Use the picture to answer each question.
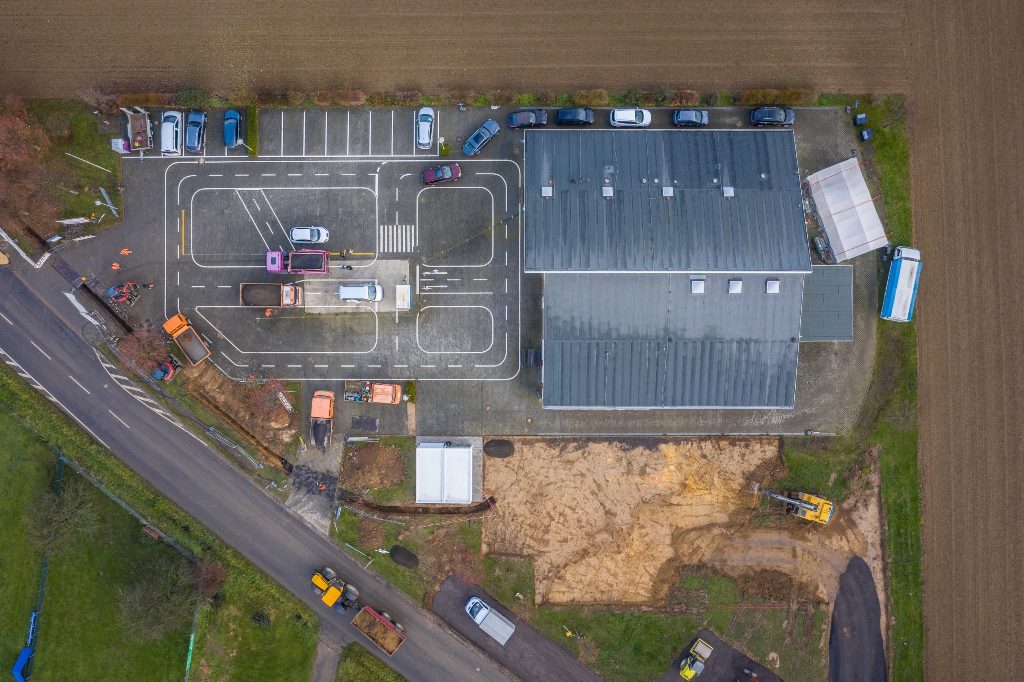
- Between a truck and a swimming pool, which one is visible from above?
truck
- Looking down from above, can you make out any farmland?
Yes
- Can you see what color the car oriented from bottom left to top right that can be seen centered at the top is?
blue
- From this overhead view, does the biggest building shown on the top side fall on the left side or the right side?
right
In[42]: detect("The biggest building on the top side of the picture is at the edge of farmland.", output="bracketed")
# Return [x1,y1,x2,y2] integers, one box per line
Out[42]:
[520,128,812,410]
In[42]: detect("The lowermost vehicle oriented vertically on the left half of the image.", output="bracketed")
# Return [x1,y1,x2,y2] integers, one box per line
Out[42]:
[310,389,335,448]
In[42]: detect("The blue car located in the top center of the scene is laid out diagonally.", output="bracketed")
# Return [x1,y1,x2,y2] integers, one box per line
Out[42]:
[461,119,500,159]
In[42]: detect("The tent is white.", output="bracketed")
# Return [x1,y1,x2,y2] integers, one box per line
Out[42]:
[801,158,894,265]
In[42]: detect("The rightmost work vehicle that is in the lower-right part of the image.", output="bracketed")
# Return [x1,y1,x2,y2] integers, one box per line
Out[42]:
[743,477,835,524]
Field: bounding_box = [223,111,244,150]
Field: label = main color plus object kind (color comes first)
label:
blue car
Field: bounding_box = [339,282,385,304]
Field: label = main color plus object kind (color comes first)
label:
white vehicle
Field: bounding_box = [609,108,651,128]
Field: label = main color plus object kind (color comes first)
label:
white car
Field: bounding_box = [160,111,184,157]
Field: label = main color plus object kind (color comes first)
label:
white vehicle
